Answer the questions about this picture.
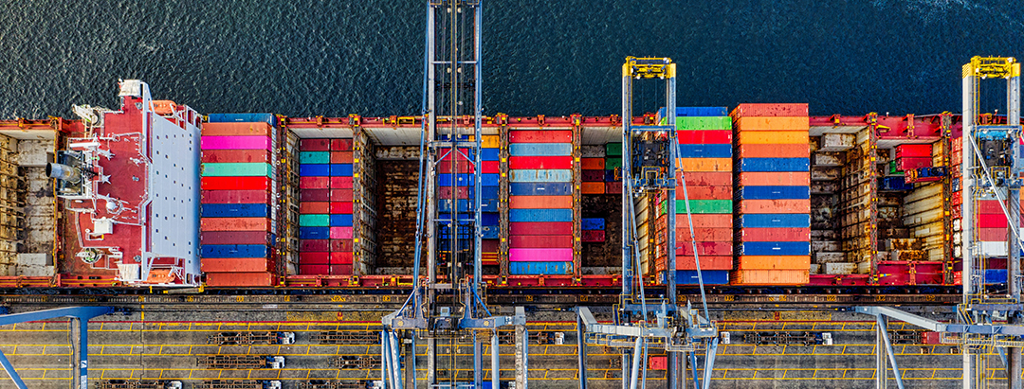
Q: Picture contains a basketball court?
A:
No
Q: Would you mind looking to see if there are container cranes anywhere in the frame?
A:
Yes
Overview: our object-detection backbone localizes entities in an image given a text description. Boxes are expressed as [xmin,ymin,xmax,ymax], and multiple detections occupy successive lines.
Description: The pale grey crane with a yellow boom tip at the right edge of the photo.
[828,57,1024,389]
